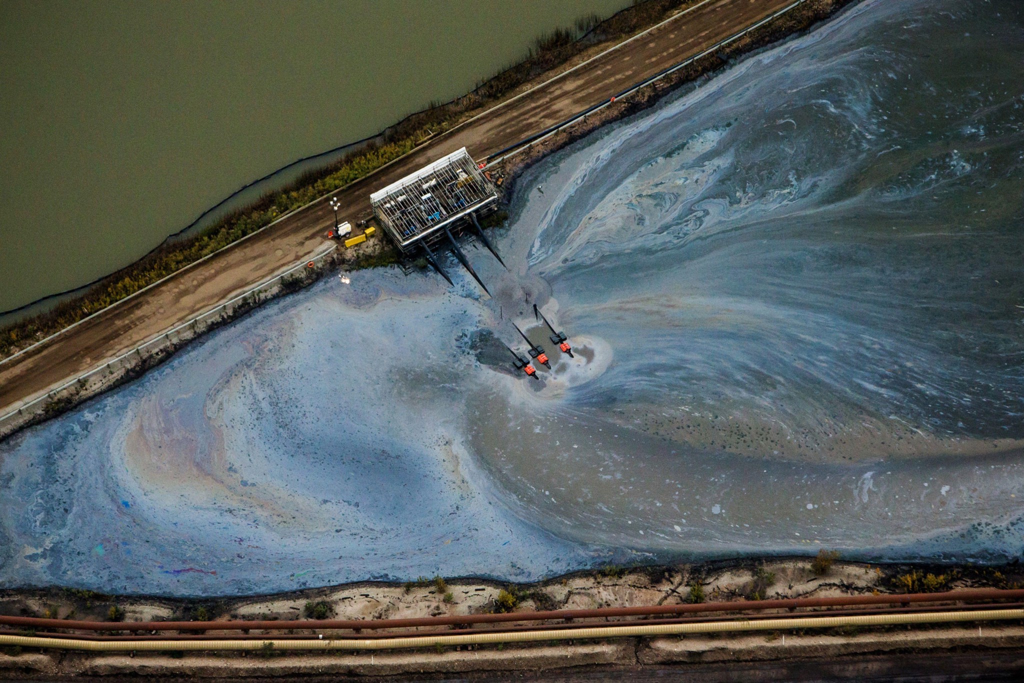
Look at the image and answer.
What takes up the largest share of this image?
water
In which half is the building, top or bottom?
top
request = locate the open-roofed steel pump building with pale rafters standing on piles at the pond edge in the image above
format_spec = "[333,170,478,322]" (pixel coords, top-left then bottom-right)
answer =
[370,150,506,265]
